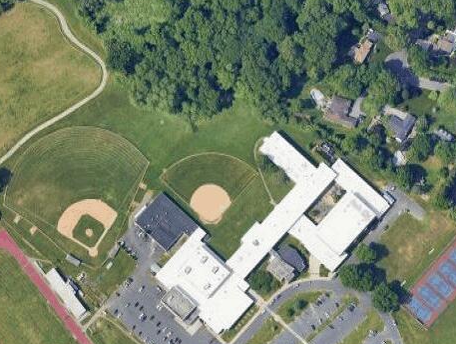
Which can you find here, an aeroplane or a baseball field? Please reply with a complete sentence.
There is a baseball field in the scene.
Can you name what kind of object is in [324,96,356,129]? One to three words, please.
house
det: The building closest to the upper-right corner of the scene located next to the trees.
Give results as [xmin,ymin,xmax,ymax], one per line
[418,32,456,53]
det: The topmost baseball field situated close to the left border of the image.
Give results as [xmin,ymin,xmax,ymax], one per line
[4,125,148,268]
